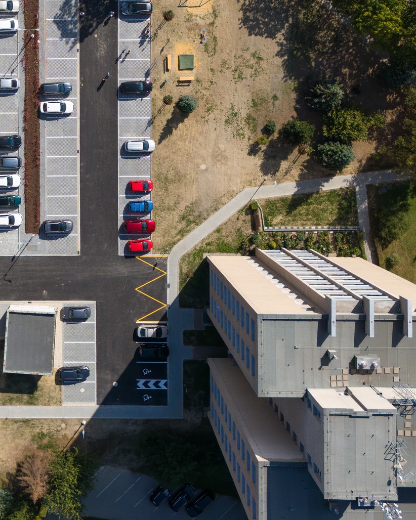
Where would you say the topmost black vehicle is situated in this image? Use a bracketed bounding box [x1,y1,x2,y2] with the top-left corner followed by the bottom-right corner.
[120,1,154,16]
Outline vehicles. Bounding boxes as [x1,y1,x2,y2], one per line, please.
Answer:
[43,219,74,236]
[0,211,24,230]
[39,99,75,116]
[0,154,22,171]
[58,365,90,383]
[128,178,154,194]
[0,19,19,33]
[0,173,22,191]
[120,1,154,16]
[119,78,153,95]
[39,80,73,97]
[122,137,157,155]
[135,324,168,341]
[0,0,21,14]
[128,198,154,215]
[0,134,23,151]
[61,305,92,322]
[0,77,21,91]
[128,237,155,254]
[136,343,169,361]
[123,218,157,236]
[0,192,22,209]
